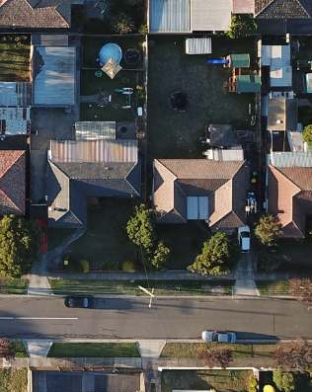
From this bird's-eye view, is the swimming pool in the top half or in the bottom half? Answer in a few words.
top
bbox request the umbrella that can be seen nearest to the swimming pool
[101,59,120,78]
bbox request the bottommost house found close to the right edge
[261,131,312,239]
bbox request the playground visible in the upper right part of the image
[207,54,264,92]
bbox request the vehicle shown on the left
[63,295,94,310]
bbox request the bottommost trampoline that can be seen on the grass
[173,92,191,109]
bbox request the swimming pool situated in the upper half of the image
[100,42,124,65]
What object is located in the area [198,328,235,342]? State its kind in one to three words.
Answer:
vehicle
